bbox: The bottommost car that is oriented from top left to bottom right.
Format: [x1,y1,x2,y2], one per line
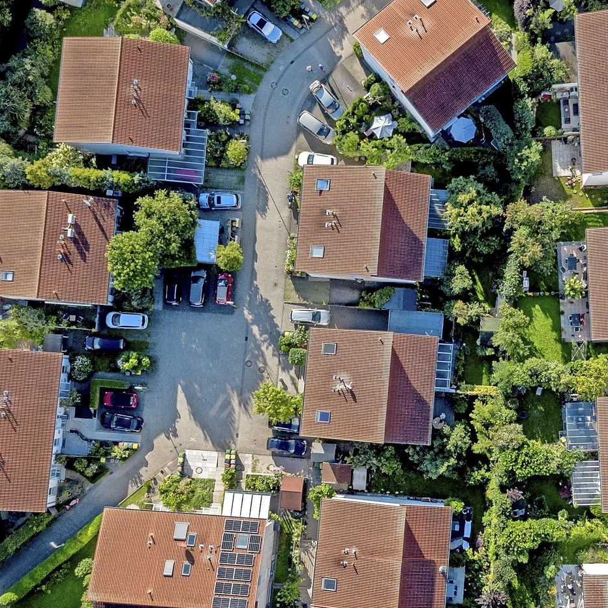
[295,109,337,143]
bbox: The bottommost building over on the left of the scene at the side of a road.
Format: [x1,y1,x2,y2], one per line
[87,504,274,608]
